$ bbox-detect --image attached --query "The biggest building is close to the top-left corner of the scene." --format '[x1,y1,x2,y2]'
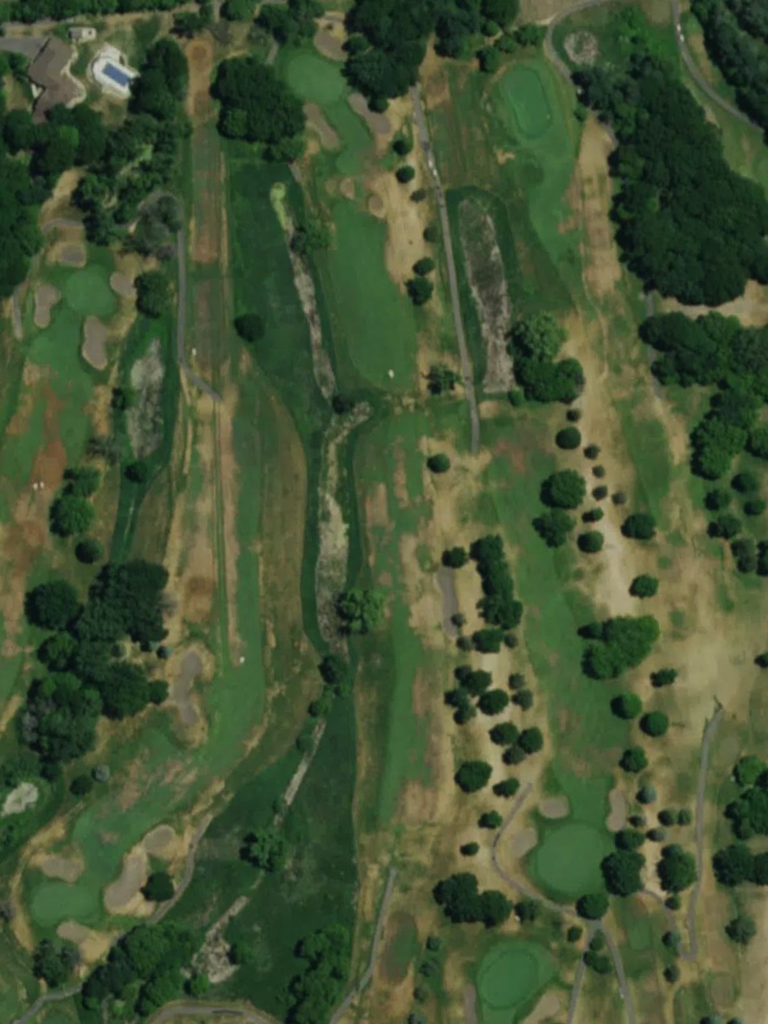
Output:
[29,37,78,119]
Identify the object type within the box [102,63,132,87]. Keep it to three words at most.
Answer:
swimming pool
